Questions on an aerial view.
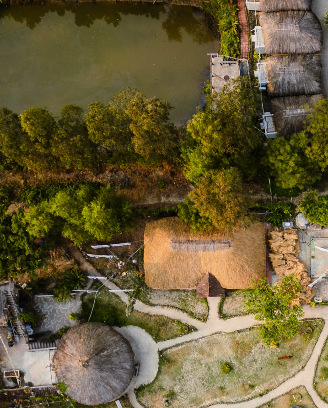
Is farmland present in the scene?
No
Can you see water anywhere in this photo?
Yes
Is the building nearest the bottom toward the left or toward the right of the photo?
left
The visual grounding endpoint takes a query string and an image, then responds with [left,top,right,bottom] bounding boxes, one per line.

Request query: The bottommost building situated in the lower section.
[54,322,137,406]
